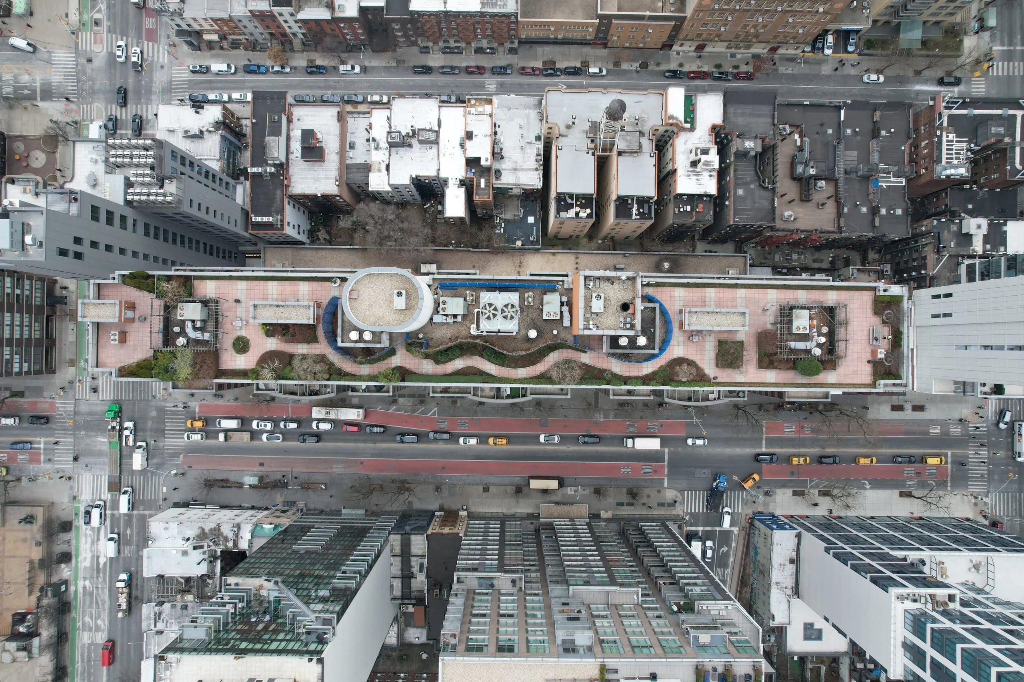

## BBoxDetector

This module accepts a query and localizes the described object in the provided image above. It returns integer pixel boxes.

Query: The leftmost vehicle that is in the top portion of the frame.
[9,37,33,52]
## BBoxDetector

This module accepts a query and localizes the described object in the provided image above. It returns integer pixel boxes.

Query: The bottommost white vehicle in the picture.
[117,575,131,619]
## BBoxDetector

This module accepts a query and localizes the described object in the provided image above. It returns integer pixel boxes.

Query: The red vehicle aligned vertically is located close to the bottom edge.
[101,640,115,669]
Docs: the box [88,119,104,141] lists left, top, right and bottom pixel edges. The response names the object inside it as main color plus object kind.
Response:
white vehicle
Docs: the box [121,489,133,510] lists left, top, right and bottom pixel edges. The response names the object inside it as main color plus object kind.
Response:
white vehicle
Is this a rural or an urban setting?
urban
